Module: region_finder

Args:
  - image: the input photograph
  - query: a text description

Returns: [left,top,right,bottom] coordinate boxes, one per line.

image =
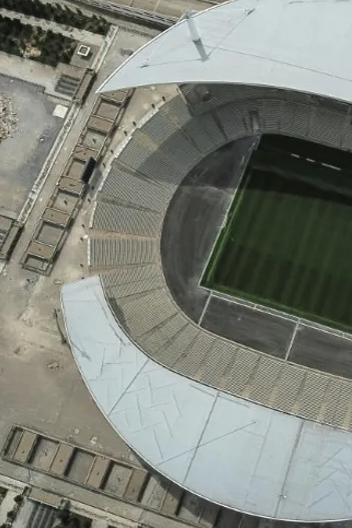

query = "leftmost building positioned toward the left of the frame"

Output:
[0,219,24,259]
